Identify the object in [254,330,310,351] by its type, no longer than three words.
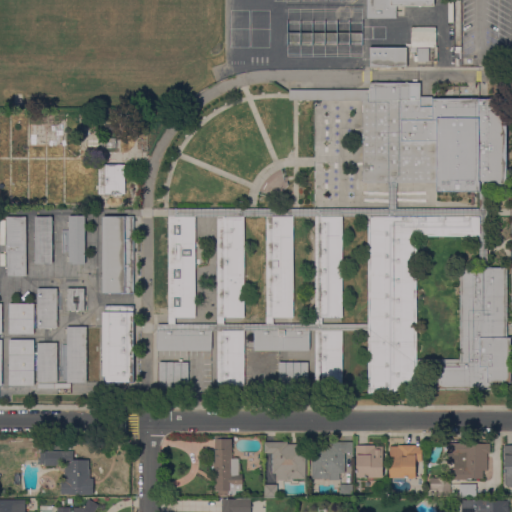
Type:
building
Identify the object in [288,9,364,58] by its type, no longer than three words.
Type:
sports court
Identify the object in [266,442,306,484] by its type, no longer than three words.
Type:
house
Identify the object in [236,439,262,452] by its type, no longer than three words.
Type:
swimming pool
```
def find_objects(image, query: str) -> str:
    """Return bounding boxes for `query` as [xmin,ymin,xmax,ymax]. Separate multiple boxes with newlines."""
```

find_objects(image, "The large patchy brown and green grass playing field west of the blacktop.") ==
[0,0,226,106]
